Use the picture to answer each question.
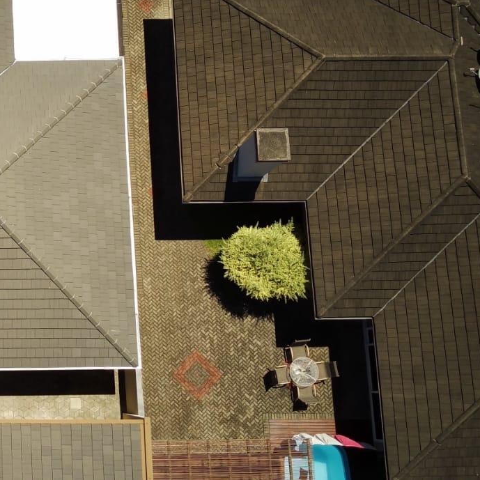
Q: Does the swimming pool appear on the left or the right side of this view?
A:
right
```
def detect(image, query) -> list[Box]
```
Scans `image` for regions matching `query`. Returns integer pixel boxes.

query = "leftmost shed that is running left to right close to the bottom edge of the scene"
[0,413,158,480]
